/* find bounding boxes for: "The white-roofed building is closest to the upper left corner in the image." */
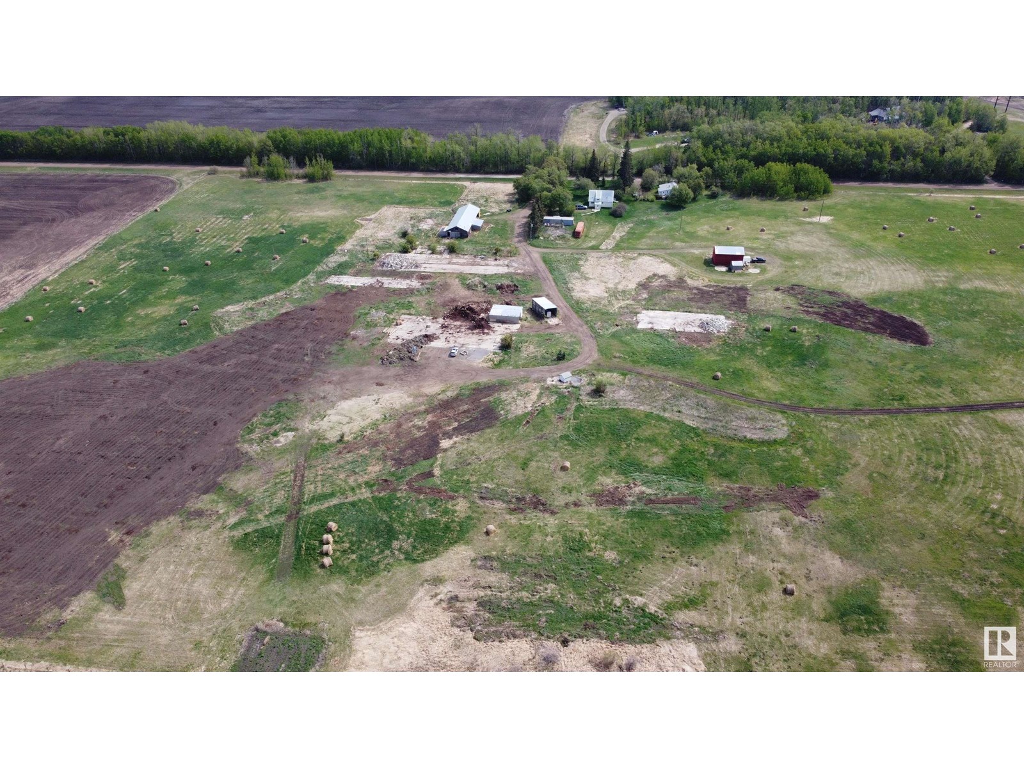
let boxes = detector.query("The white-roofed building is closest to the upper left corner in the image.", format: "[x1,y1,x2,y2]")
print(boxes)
[438,201,485,238]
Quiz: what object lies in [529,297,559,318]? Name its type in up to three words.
shed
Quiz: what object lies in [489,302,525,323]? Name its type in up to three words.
shed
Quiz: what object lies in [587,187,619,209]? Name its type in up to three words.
house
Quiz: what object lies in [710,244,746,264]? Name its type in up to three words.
barn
